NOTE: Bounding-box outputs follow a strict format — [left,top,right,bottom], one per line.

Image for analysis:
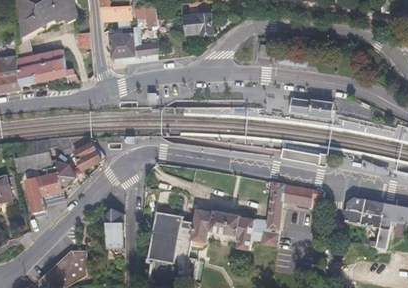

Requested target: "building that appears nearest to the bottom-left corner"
[58,250,90,288]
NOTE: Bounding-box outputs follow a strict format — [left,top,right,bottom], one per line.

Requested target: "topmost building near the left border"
[18,0,79,38]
